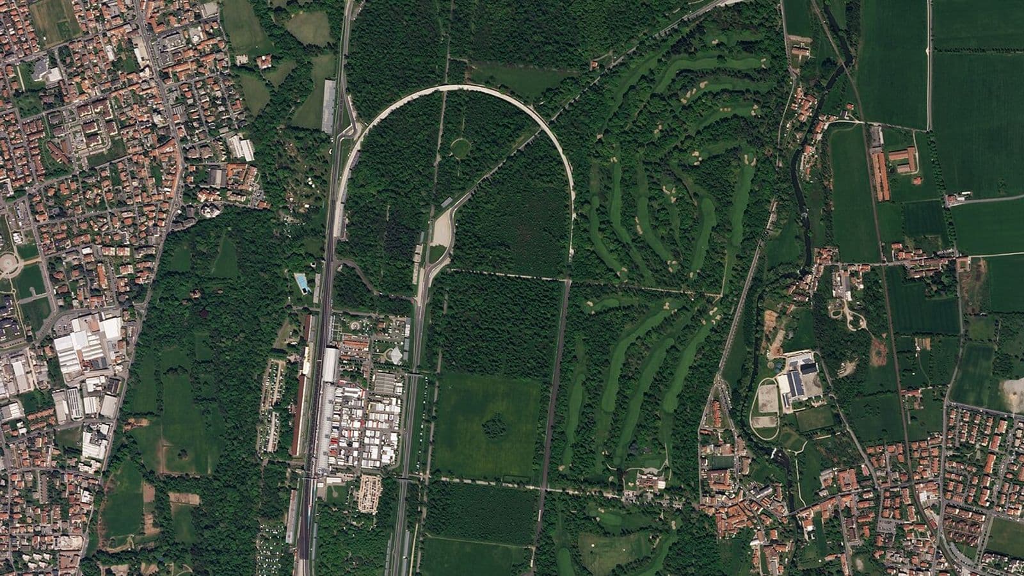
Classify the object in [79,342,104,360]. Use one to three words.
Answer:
building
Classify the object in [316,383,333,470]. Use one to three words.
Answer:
building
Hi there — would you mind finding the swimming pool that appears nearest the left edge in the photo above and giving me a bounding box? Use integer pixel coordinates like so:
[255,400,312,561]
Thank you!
[294,273,312,295]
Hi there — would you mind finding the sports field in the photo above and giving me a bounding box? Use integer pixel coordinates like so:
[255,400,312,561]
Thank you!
[31,0,82,47]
